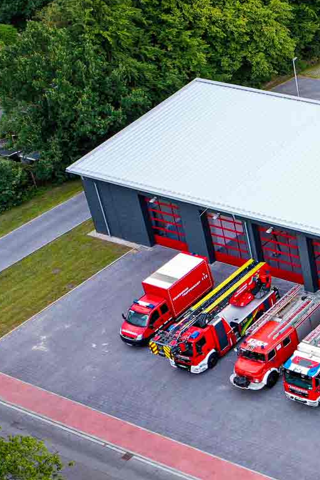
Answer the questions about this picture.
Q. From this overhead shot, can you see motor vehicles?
Yes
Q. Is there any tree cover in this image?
Yes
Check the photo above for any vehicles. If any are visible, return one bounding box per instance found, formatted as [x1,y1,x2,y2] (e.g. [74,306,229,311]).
[118,253,215,350]
[149,260,279,376]
[234,282,320,390]
[278,320,320,410]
